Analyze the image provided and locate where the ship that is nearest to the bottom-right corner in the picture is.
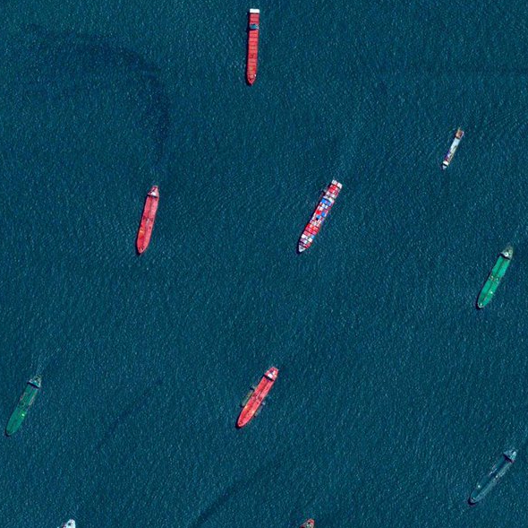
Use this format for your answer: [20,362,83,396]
[469,450,516,502]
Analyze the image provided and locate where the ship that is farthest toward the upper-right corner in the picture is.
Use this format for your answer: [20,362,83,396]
[442,127,464,169]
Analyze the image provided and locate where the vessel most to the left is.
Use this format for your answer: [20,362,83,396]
[7,375,41,435]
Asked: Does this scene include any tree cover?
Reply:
No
